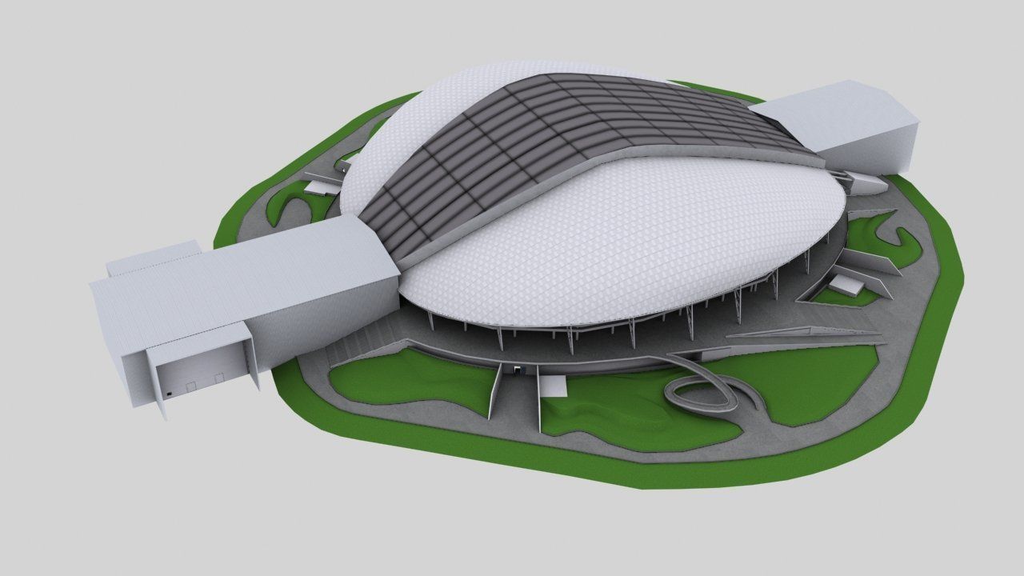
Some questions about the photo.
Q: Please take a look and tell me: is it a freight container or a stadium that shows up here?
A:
stadium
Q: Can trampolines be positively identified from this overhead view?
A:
No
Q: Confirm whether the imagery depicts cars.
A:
No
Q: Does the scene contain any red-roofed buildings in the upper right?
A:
No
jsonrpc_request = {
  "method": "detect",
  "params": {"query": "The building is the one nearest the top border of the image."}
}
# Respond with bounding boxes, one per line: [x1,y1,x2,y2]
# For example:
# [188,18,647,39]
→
[746,80,921,179]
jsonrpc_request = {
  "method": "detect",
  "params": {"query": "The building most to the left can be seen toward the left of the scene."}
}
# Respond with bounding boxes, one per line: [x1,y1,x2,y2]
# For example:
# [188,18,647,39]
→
[90,216,403,419]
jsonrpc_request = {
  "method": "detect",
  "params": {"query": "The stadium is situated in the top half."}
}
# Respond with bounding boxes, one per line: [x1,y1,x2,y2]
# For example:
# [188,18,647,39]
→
[338,59,847,355]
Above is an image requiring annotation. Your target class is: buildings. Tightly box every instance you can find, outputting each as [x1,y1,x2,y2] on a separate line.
[746,80,921,179]
[90,216,403,419]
